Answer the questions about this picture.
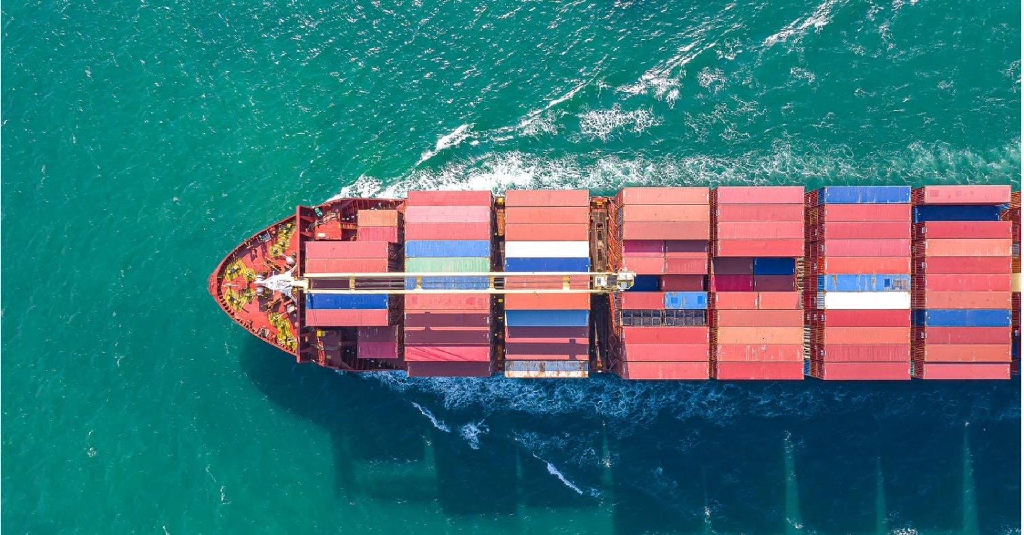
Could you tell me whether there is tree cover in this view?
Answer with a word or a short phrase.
No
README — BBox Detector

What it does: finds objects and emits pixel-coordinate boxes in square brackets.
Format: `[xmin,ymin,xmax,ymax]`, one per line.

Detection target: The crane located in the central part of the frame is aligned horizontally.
[304,267,635,301]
